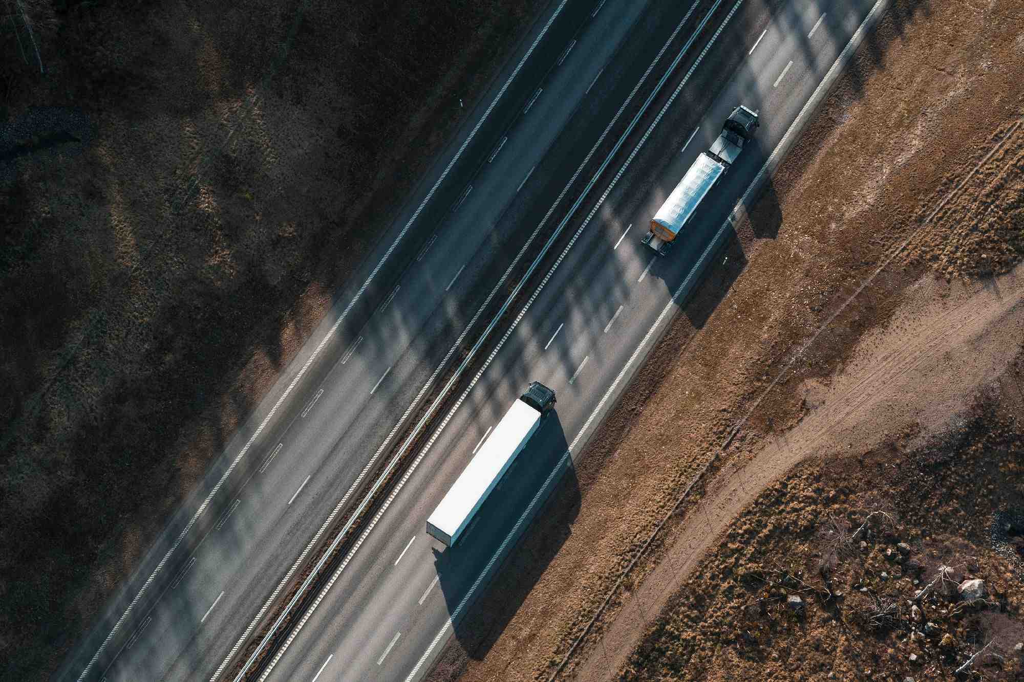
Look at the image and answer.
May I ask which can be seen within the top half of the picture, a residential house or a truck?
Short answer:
truck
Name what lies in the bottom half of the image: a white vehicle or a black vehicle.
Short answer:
white vehicle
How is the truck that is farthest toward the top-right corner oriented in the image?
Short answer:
at an angle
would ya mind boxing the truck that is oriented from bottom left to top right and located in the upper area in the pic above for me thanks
[642,108,760,258]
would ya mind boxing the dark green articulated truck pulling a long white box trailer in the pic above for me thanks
[426,379,560,550]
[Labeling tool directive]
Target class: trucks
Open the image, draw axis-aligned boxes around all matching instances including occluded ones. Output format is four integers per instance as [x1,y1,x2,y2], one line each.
[426,379,560,550]
[642,108,760,258]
